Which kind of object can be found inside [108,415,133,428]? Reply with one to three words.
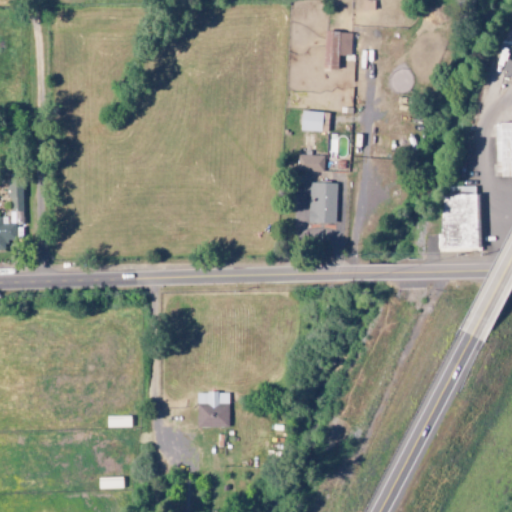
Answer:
shed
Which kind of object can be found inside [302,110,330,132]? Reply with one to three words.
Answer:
barn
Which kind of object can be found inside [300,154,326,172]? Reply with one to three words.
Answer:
house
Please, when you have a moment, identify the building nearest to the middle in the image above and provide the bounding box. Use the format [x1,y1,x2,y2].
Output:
[310,182,338,228]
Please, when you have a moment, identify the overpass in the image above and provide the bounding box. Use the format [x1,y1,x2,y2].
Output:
[461,230,512,345]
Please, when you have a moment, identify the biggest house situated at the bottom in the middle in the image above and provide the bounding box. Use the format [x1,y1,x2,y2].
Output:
[198,390,230,428]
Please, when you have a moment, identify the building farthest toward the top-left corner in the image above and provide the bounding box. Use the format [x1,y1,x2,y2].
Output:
[10,178,24,212]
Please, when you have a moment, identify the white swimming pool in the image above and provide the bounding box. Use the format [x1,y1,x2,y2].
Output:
[331,134,350,158]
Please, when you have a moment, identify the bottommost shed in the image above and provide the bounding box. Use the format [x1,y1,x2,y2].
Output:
[100,476,124,490]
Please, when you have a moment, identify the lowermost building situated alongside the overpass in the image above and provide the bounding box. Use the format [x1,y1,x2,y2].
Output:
[439,194,482,250]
